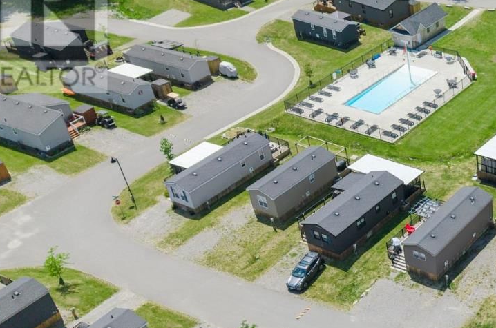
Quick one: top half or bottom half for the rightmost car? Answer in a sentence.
It is in the bottom half that the rightmost car appears.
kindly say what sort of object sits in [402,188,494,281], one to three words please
house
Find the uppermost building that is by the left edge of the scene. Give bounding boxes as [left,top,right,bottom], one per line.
[10,20,104,71]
